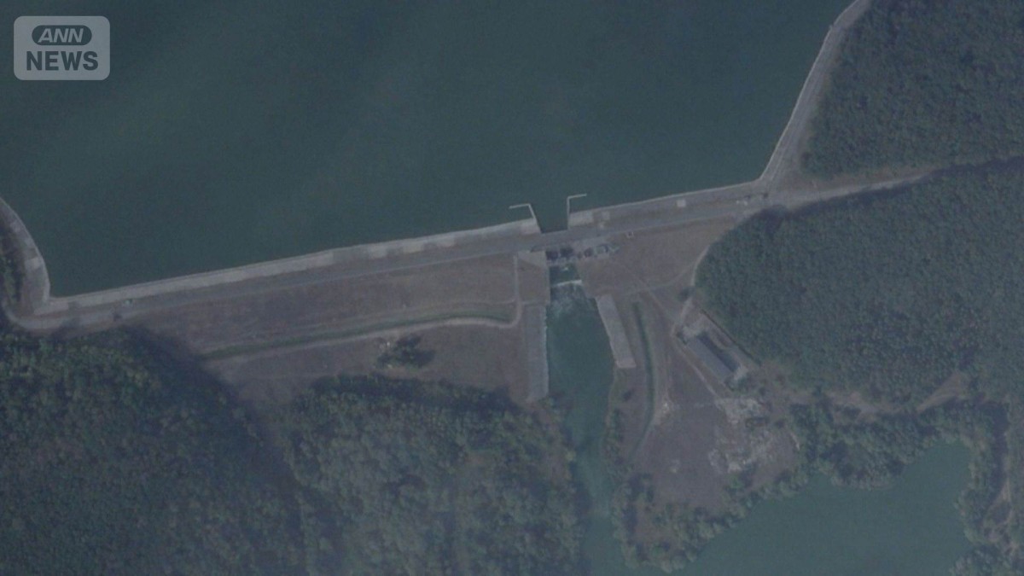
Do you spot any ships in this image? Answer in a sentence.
No, the picture doesn't show any ship.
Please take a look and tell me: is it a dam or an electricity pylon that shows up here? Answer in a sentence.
The image shows a dam.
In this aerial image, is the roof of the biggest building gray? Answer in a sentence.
Yes, gray is the color of the roof of the biggest building.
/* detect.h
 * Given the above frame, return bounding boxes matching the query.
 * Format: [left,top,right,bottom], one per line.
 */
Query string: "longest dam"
[30,178,774,355]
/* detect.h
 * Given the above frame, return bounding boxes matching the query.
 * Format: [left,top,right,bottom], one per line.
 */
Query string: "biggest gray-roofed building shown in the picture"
[688,337,733,382]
